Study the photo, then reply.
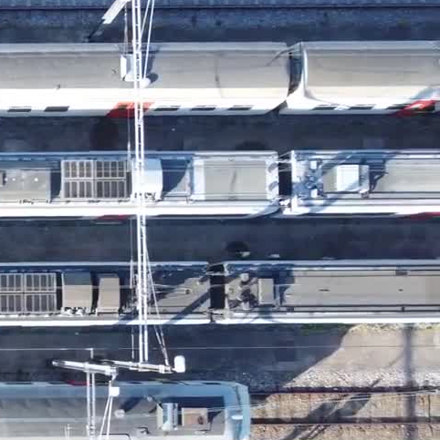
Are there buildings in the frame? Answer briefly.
No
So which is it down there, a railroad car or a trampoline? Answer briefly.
railroad car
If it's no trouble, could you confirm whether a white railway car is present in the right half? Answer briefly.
Yes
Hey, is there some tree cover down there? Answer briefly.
No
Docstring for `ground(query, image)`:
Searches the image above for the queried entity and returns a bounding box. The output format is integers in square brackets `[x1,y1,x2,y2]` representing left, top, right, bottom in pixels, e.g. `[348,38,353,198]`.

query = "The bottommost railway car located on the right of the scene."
[209,261,440,325]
